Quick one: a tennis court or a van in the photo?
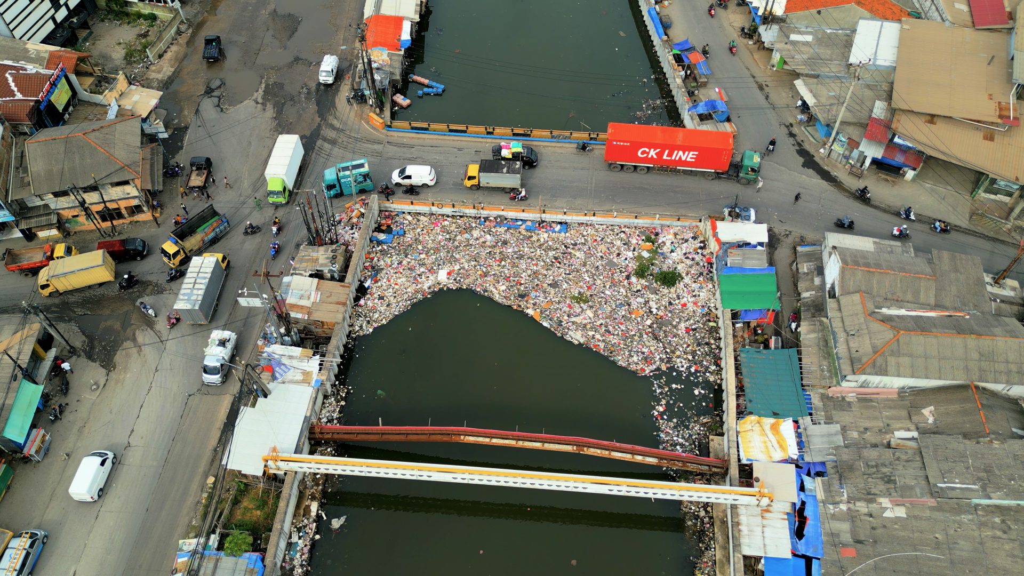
van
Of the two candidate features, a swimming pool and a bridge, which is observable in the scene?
bridge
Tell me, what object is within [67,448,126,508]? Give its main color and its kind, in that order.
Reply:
white van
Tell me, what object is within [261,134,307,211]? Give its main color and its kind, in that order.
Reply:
white truck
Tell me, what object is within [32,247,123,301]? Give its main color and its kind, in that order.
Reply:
yellow truck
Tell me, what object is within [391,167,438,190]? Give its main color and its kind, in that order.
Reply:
white car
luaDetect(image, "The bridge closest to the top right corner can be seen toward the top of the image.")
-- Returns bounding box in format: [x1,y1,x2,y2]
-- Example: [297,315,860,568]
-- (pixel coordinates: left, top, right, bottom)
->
[376,125,707,237]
